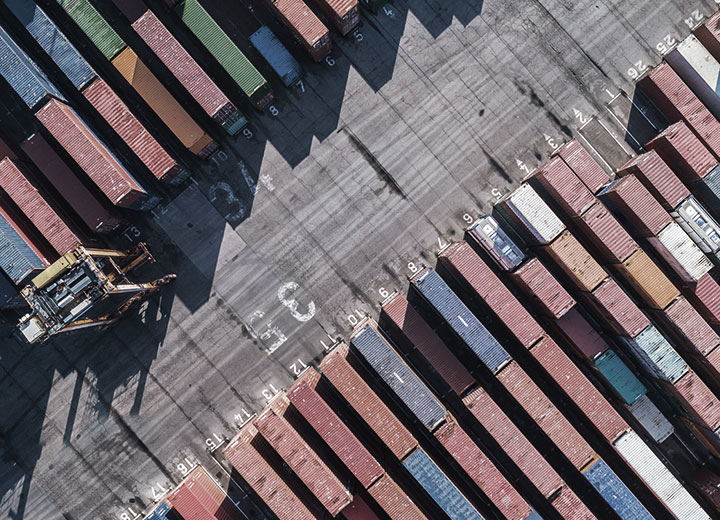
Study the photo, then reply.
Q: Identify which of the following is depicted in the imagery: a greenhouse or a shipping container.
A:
shipping container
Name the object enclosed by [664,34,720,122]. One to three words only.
shipping container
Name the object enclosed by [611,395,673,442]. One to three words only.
shipping container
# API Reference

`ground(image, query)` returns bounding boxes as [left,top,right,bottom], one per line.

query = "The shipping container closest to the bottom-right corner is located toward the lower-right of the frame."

[672,453,720,514]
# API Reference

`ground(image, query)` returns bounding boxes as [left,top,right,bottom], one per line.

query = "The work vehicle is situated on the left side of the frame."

[14,230,174,342]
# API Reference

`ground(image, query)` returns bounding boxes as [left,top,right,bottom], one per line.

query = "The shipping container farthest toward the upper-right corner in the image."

[693,12,720,64]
